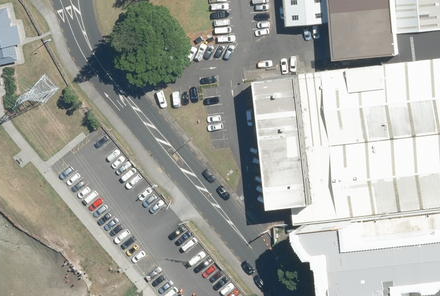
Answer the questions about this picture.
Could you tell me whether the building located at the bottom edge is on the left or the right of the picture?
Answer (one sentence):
The building located at the bottom edge appears in the right half of the scene.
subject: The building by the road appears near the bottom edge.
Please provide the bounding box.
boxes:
[289,210,440,296]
